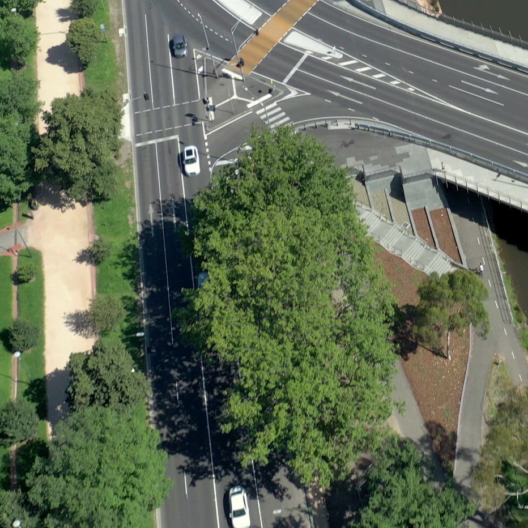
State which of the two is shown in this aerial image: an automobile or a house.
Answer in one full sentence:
This aerial view contains an automobile.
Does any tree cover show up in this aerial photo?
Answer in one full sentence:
Yes, some tree cover is visible.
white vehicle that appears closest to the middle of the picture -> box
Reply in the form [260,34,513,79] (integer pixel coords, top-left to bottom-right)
[183,143,201,174]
